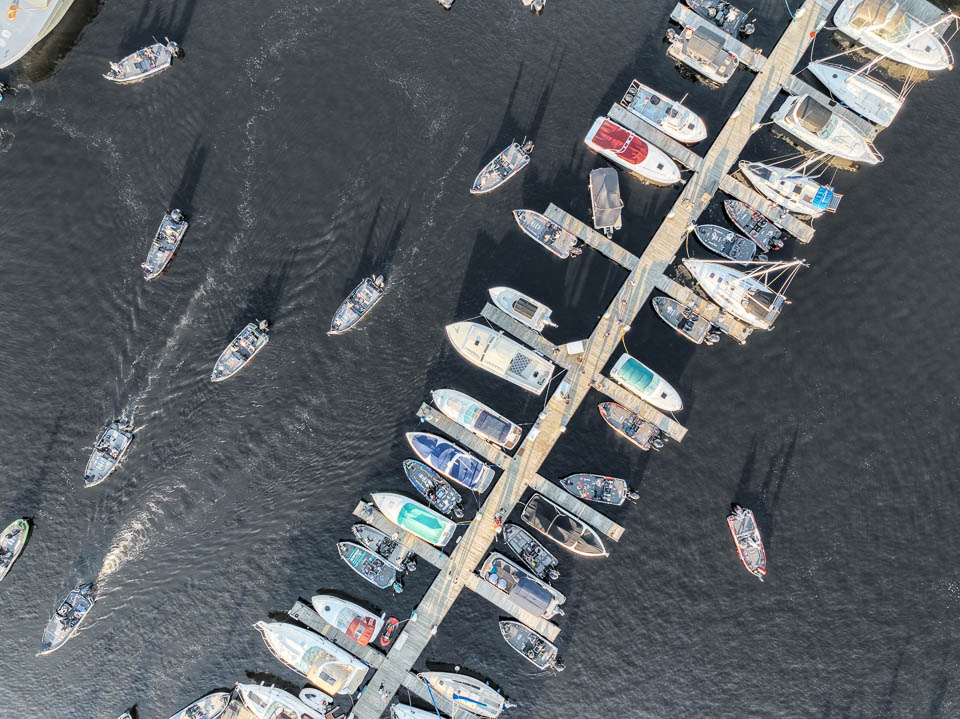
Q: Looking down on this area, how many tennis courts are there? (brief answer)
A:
zero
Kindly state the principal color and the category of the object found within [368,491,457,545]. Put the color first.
white boat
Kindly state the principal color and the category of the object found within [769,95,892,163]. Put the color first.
white boat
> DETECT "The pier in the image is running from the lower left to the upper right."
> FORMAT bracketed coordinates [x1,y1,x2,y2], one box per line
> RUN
[343,0,838,719]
